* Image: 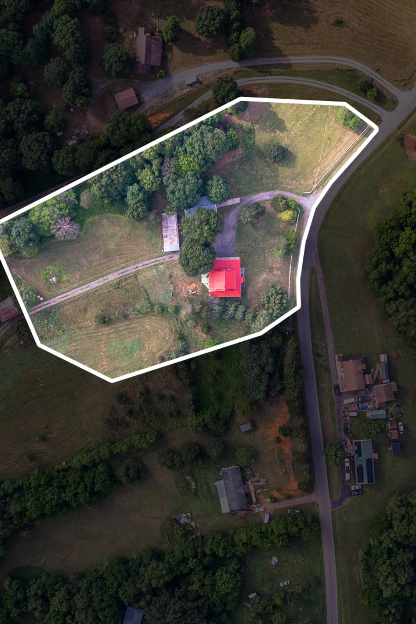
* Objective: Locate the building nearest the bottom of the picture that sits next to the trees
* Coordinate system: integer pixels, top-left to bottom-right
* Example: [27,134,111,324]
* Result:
[123,606,144,624]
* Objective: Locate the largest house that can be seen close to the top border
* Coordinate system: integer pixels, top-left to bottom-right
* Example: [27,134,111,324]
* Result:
[135,27,173,75]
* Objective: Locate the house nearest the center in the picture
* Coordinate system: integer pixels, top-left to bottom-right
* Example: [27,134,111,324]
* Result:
[207,257,245,297]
